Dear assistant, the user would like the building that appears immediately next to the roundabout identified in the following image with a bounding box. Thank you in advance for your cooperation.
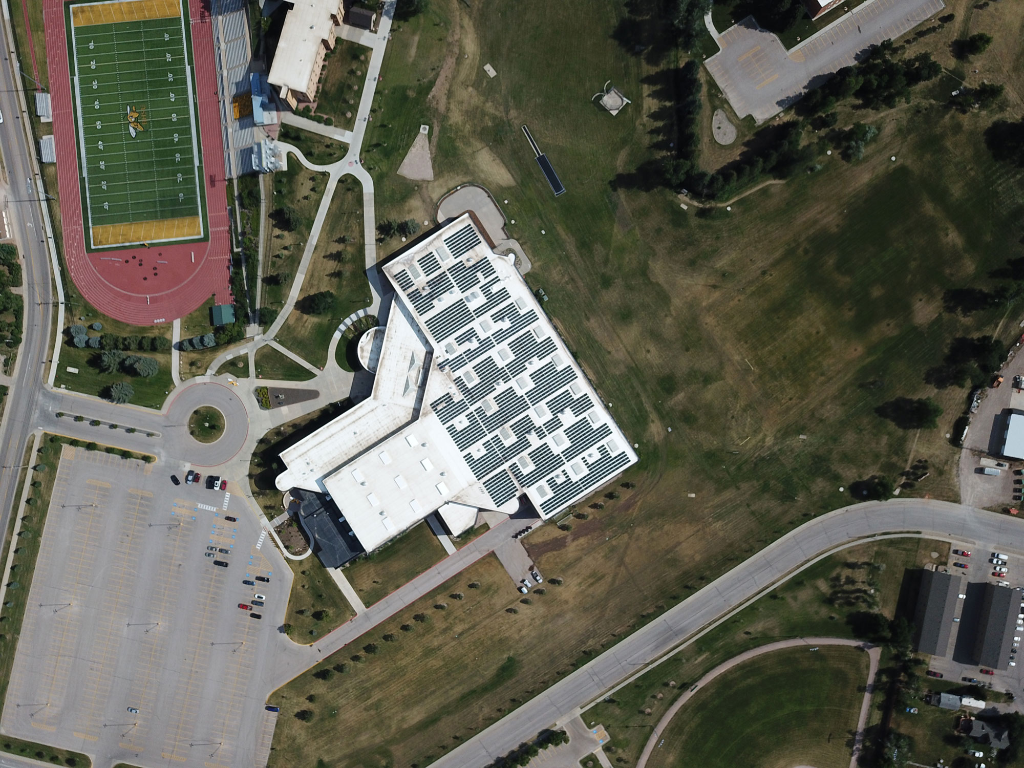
[275,213,640,569]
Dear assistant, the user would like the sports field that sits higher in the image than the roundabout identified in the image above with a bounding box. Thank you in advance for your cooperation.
[63,0,209,255]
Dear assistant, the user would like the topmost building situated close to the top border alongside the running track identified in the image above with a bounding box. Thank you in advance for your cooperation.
[267,0,351,107]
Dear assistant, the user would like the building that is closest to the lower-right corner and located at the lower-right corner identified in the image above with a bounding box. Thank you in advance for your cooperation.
[966,716,1010,750]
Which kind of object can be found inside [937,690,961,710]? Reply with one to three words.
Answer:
shed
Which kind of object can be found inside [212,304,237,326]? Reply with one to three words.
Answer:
shed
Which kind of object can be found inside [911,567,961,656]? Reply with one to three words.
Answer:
building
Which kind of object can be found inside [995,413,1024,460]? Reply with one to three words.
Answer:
building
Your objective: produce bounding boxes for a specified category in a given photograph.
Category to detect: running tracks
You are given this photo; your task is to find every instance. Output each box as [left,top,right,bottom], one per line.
[41,0,234,325]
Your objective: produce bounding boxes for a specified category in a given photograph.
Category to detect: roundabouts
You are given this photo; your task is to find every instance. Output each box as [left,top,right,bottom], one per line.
[166,382,249,467]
